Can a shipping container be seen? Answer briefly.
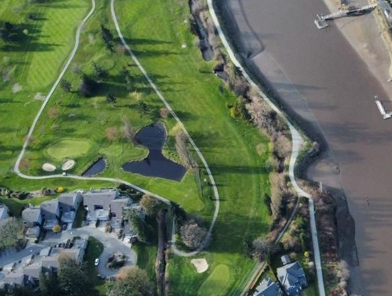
No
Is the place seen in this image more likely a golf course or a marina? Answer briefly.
golf course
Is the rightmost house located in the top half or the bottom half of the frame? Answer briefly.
bottom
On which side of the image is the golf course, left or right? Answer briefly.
left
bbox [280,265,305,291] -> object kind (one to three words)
house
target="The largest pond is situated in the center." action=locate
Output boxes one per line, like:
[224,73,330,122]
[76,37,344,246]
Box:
[123,122,187,182]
